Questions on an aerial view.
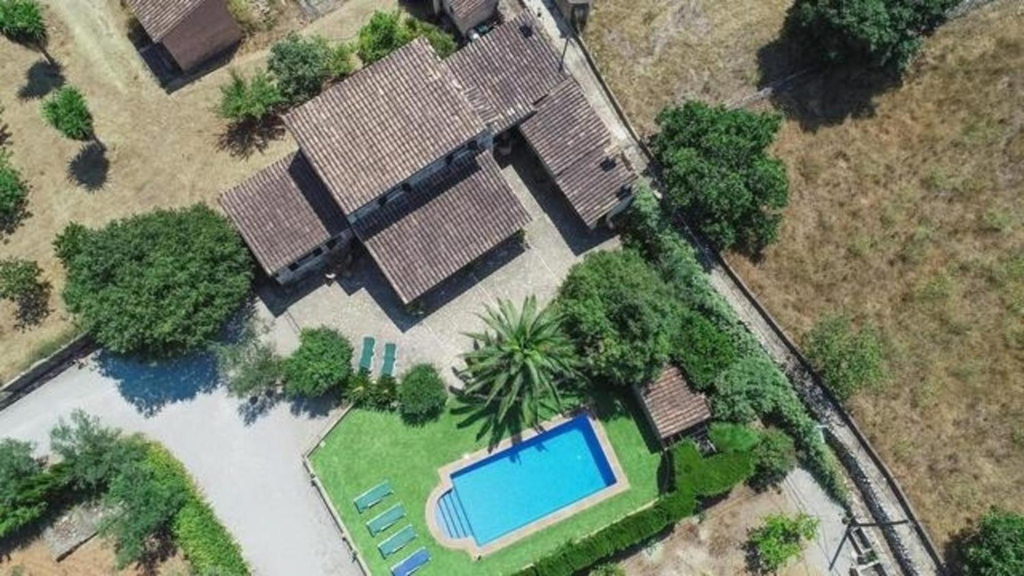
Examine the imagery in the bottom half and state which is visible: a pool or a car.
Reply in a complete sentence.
There is a pool in the bottom half.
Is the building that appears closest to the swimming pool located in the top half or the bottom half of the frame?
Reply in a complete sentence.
It is in the bottom half that the building that appears closest to the swimming pool appears.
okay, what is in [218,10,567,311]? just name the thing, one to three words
house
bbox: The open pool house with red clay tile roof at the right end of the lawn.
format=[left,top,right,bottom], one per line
[629,354,711,441]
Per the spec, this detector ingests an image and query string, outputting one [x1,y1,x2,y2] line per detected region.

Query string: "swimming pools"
[426,399,630,560]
